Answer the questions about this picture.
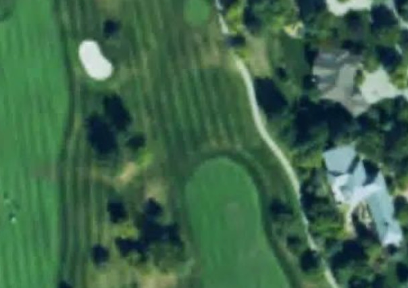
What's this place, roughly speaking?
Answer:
golf course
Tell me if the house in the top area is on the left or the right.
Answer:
right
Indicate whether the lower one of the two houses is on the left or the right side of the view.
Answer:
right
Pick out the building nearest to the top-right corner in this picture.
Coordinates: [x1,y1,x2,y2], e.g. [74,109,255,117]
[311,44,373,120]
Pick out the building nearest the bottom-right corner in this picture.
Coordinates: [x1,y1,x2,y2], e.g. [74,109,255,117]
[325,145,407,245]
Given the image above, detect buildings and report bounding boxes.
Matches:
[325,145,407,245]
[311,44,373,120]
